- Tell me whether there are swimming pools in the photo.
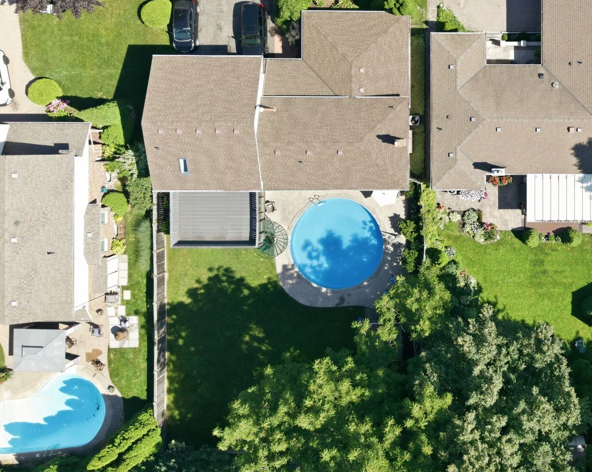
Yes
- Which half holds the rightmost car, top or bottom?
top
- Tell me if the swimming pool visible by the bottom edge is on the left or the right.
left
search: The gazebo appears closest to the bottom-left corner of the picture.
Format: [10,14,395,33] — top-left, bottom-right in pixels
[13,321,83,374]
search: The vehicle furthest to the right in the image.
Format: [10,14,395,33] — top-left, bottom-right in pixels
[239,3,271,57]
